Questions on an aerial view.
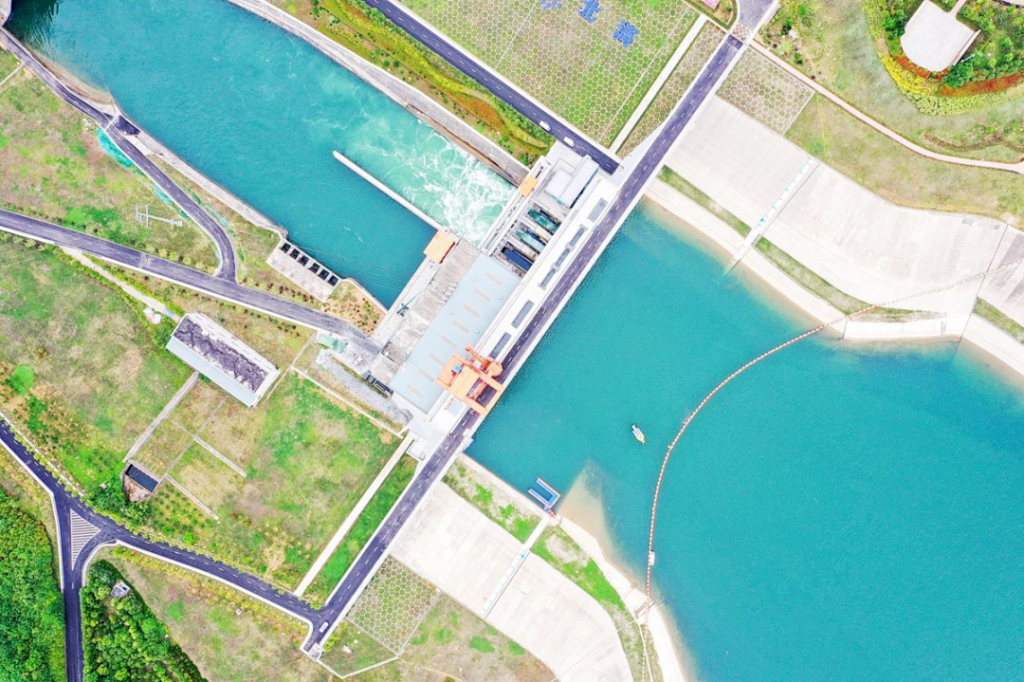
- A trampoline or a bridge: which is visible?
bridge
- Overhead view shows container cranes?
Yes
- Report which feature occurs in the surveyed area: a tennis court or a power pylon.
power pylon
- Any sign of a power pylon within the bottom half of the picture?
No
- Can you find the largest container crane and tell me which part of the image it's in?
center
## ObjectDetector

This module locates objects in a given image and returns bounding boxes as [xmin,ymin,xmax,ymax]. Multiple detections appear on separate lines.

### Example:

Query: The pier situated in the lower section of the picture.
[528,478,561,518]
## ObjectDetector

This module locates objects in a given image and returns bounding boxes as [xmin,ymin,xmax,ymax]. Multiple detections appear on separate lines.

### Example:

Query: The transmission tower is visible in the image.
[137,200,183,226]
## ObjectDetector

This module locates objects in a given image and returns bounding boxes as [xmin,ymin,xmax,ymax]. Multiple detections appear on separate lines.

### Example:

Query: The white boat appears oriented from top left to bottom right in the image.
[631,425,645,443]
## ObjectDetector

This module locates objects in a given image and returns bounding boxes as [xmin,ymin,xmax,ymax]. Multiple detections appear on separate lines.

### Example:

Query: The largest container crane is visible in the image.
[435,345,506,416]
